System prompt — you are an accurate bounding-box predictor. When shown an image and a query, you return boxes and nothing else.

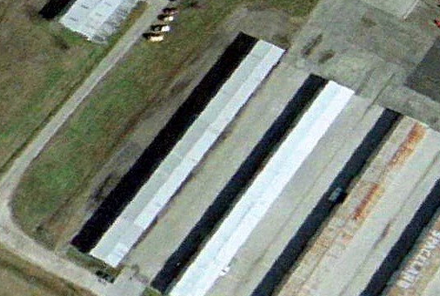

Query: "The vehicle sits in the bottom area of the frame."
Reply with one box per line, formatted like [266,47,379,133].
[329,188,343,202]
